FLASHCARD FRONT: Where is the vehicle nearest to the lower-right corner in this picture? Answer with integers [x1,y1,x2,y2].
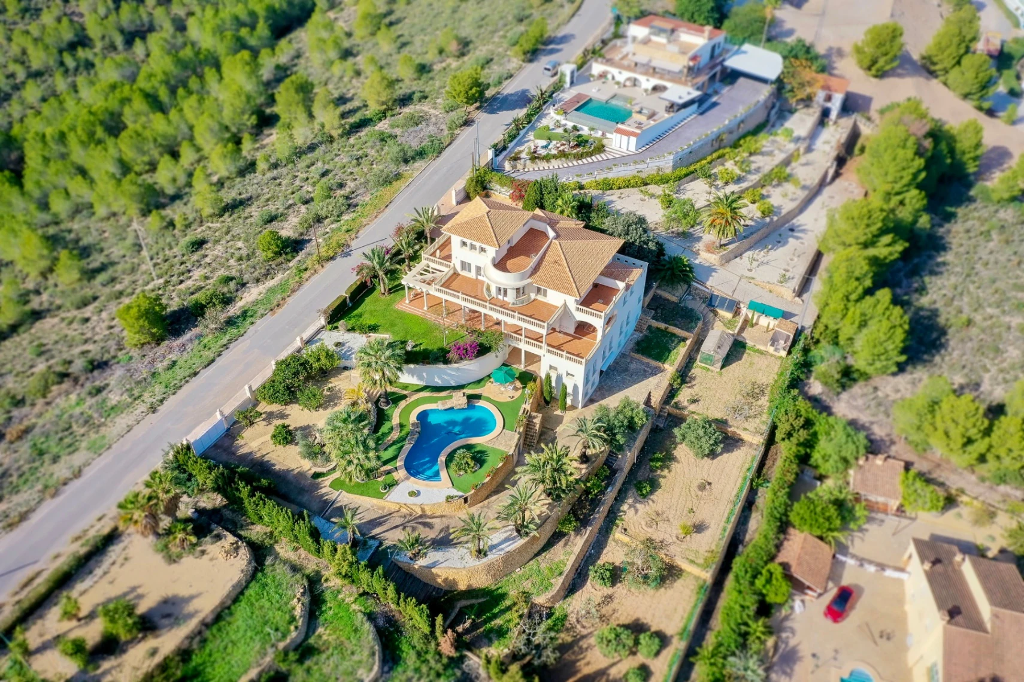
[825,578,858,628]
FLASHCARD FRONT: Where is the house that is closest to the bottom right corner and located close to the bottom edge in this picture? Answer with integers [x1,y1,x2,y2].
[895,538,1024,682]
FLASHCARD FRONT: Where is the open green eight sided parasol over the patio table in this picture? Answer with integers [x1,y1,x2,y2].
[490,365,518,392]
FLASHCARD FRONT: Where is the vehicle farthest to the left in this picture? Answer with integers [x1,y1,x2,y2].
[539,61,563,76]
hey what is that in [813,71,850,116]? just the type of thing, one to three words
shed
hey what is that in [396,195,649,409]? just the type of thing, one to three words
house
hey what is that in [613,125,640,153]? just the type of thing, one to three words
shed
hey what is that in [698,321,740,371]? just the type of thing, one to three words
greenhouse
